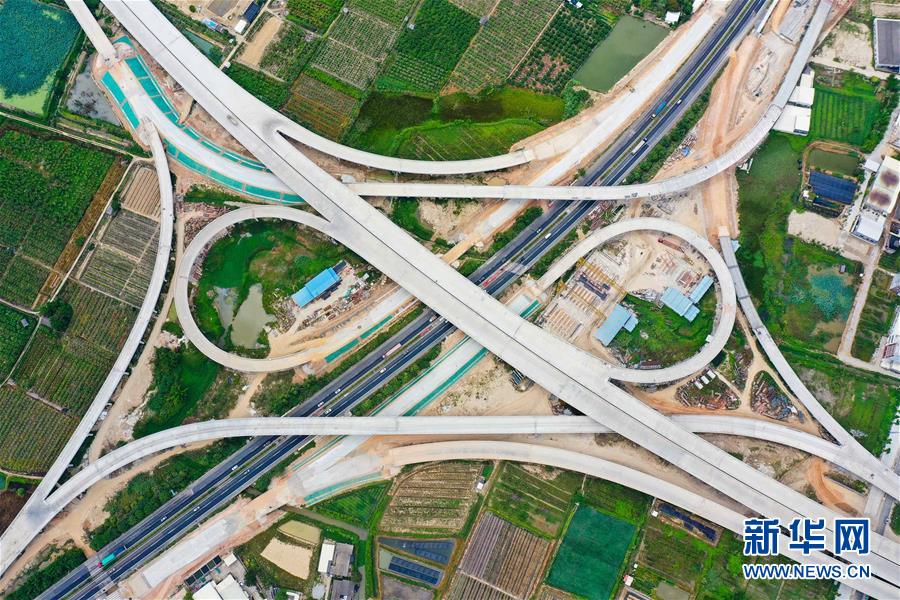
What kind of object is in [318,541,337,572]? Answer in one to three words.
house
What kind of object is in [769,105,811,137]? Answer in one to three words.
building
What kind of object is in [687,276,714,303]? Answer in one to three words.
shed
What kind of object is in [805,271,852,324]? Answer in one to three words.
pond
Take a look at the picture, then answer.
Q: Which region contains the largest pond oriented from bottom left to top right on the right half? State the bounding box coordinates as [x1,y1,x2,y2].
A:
[573,16,671,92]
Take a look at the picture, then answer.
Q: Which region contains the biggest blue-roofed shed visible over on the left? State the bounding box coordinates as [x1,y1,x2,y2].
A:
[292,266,340,308]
